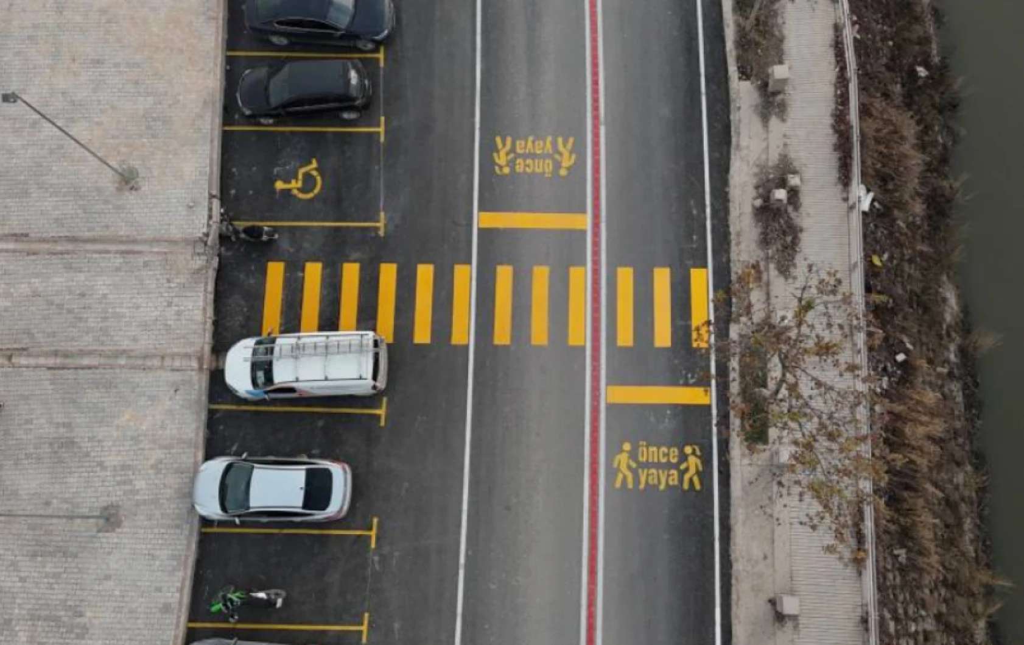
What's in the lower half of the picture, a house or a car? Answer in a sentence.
There is a car in the lower half of the picture.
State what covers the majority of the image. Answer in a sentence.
The largest share of the image is taken up by paved ground.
